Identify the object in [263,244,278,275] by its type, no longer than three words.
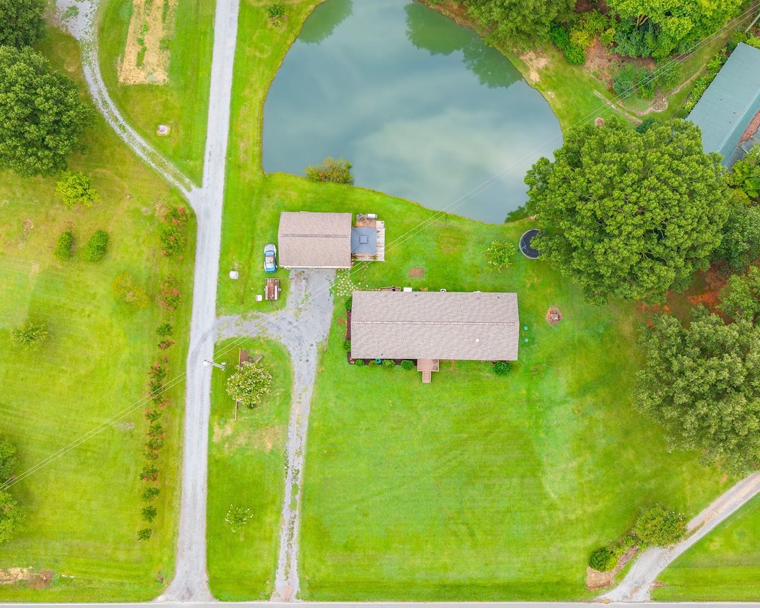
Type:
car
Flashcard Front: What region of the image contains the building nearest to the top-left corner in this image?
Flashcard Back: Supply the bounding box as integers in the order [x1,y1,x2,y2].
[278,212,353,270]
